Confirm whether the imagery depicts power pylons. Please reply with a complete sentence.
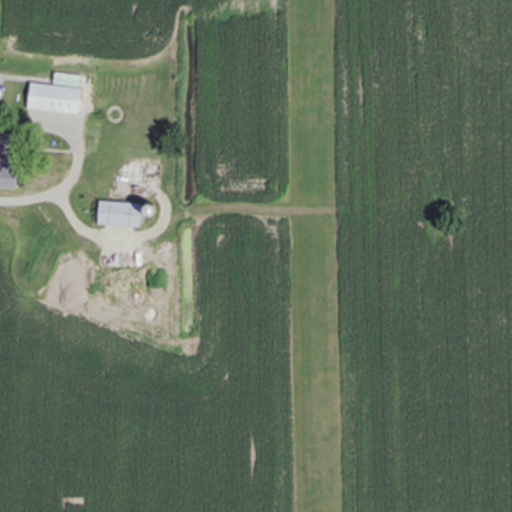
No, I can see no power pylon in this picture.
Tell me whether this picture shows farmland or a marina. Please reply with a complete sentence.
The area seen from above is farmland.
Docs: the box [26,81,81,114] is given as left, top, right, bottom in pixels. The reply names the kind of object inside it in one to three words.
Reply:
barn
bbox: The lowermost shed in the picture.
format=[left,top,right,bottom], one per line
[97,200,142,228]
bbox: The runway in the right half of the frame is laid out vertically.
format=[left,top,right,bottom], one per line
[288,0,342,512]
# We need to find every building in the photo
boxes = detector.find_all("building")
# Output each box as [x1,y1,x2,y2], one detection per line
[26,81,81,114]
[97,200,142,228]
[0,130,16,190]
